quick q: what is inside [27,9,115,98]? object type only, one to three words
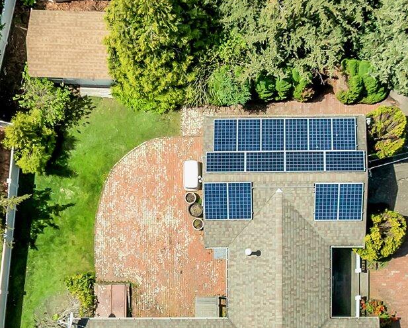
shed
